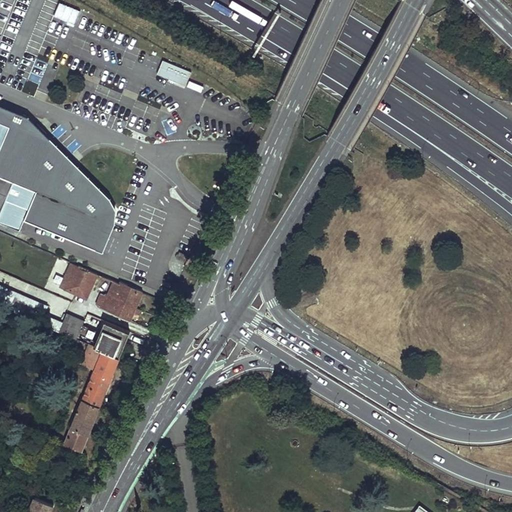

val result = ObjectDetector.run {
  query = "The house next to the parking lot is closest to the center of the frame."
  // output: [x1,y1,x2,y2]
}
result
[96,280,145,322]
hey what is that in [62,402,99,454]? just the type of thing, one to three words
house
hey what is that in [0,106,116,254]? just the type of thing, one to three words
building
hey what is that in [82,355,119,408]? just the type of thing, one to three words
house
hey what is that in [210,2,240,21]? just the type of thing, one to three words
vehicle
